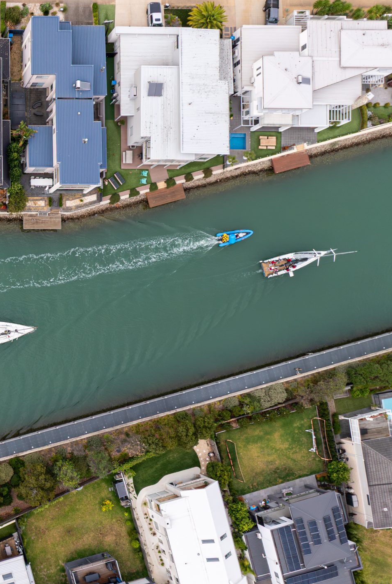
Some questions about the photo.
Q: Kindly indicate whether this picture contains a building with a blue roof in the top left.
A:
Yes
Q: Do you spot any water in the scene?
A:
Yes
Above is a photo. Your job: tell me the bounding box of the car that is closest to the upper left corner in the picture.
[146,1,165,27]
